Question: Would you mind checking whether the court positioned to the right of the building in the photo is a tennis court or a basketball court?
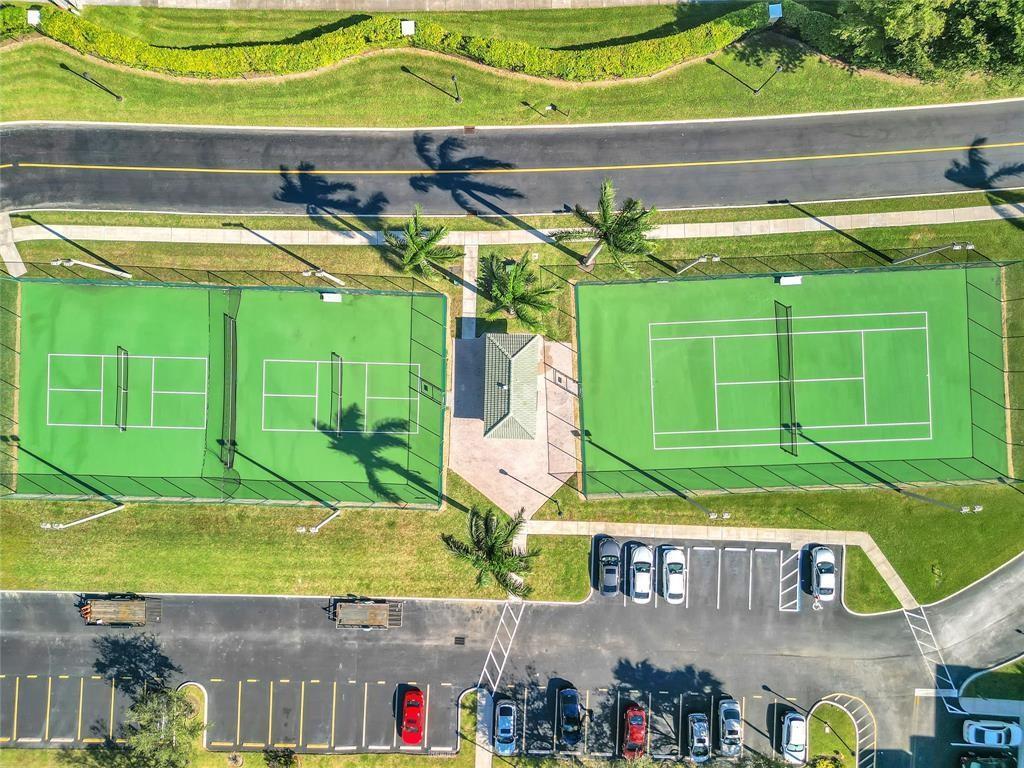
tennis court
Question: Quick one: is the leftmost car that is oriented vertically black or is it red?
red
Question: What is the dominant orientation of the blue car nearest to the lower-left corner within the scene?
vertically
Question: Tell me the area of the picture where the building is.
center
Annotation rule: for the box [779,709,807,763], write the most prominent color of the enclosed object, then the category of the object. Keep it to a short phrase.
white car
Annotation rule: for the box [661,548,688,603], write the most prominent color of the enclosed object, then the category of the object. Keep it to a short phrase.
white car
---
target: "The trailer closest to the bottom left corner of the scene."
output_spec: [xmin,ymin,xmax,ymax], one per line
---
[73,597,162,629]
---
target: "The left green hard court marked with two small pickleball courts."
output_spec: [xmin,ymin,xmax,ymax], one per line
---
[17,283,445,504]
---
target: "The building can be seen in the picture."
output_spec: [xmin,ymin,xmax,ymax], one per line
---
[483,332,539,440]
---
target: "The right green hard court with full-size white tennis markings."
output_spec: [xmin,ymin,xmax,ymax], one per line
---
[577,267,1009,496]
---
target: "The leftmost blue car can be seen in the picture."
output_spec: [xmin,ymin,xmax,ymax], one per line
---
[493,696,518,753]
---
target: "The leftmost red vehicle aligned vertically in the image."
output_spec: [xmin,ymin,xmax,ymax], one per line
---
[400,687,426,743]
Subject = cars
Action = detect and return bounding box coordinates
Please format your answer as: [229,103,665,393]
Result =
[622,703,647,758]
[661,548,688,603]
[493,696,518,753]
[779,709,807,763]
[686,709,712,760]
[808,545,837,600]
[629,545,655,602]
[597,538,623,595]
[400,687,426,743]
[717,696,745,754]
[963,718,1022,748]
[558,685,583,743]
[961,749,1020,768]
